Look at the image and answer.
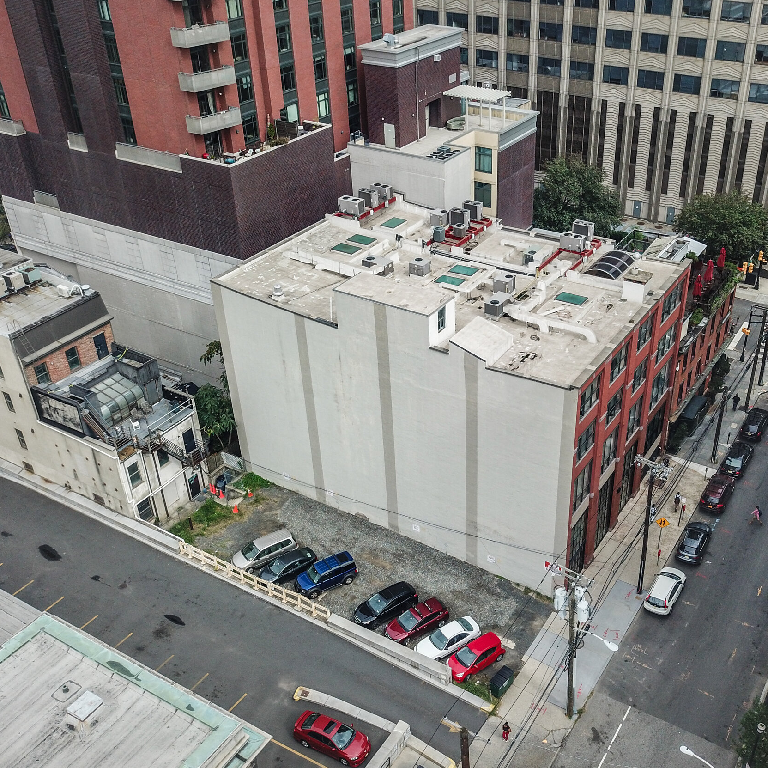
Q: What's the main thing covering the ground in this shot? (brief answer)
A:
buildings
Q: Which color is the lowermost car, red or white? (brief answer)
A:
red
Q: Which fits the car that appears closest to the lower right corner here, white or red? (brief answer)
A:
white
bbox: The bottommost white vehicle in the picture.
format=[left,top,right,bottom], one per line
[415,612,484,662]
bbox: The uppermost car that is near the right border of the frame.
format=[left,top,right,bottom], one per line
[740,409,768,442]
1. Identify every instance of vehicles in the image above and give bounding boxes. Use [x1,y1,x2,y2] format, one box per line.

[415,612,484,662]
[350,579,417,628]
[643,563,690,615]
[255,537,320,583]
[722,441,757,477]
[291,706,373,765]
[224,520,297,574]
[673,518,715,564]
[385,594,453,646]
[445,632,509,682]
[294,547,359,599]
[740,409,768,442]
[699,474,739,513]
